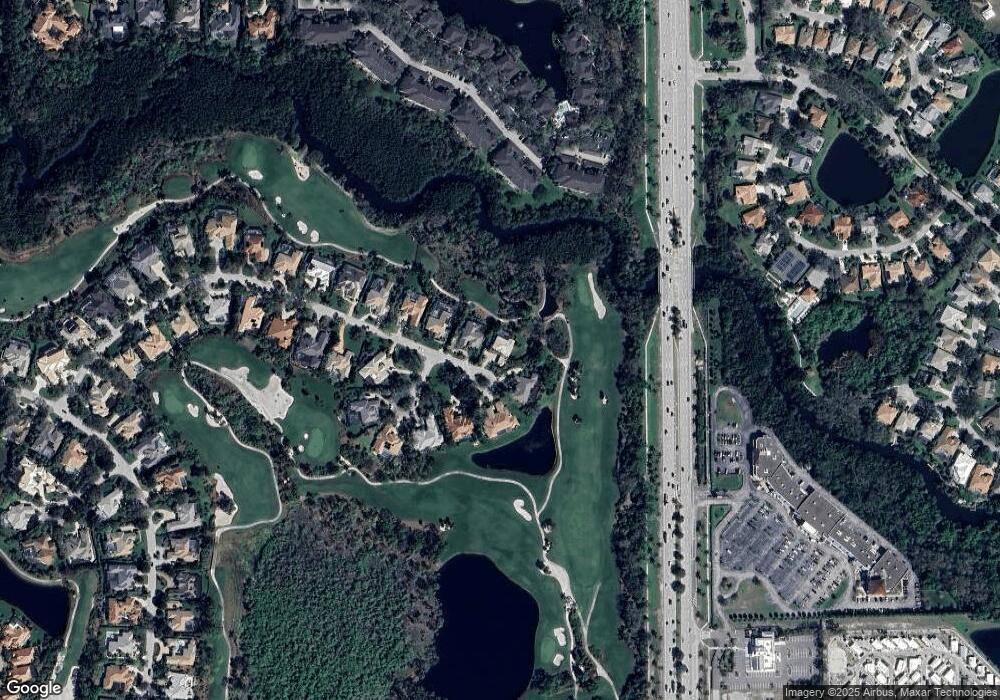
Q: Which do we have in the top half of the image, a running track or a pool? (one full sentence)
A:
What appears in the top half of the image is a pool.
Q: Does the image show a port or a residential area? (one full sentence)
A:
The picture captures a residential area.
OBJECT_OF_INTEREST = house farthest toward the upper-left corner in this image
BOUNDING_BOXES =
[27,0,83,56]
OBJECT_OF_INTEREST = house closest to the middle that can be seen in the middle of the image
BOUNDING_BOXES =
[492,331,519,367]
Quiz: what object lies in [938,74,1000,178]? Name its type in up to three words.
pond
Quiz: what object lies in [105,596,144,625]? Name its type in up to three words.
house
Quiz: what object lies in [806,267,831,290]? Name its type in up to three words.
building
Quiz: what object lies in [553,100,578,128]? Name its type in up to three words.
swimming pool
